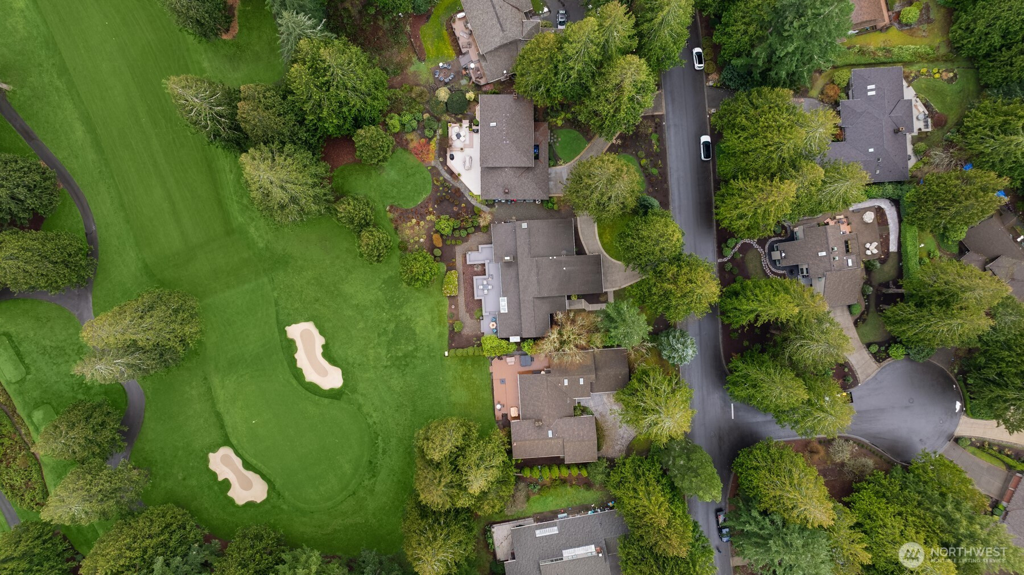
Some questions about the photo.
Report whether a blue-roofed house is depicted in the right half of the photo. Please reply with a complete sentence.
No, there's no blue-roofed house to be seen in the right half of the photo.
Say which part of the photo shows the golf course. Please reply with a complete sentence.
The golf course appears toward the left of the photo.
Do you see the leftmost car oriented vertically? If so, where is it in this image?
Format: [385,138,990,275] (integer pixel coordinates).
[556,6,568,34]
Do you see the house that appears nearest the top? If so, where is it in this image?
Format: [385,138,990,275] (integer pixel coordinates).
[847,0,890,36]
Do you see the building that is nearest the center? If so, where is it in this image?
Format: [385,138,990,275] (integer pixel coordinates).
[491,218,604,338]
